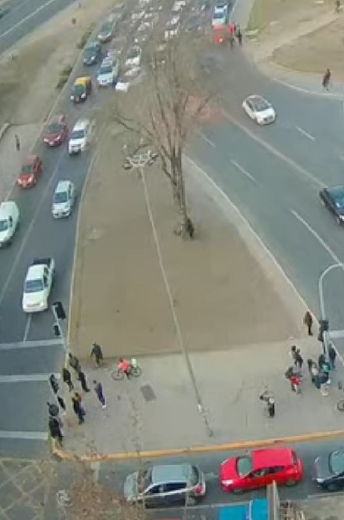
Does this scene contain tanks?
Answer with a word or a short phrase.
No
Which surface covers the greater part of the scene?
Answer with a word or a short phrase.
paved ground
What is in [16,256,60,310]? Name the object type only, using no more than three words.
truck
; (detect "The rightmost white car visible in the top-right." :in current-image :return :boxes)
[246,96,273,122]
